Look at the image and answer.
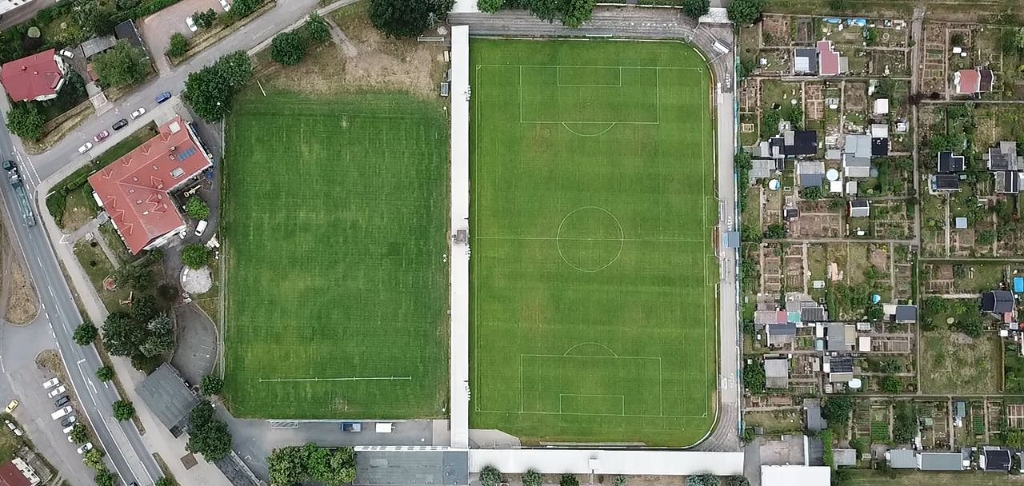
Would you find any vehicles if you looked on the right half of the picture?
No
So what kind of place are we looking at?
sports ground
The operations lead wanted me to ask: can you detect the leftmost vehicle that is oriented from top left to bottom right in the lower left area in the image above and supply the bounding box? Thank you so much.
[5,421,22,436]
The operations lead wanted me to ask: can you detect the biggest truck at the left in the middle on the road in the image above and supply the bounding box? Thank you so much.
[3,163,36,228]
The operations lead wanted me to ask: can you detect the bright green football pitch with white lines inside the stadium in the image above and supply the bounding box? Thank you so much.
[469,38,719,448]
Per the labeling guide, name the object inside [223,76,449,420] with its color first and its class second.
green soccer field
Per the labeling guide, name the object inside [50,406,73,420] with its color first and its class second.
white vehicle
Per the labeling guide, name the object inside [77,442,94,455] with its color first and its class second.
white vehicle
